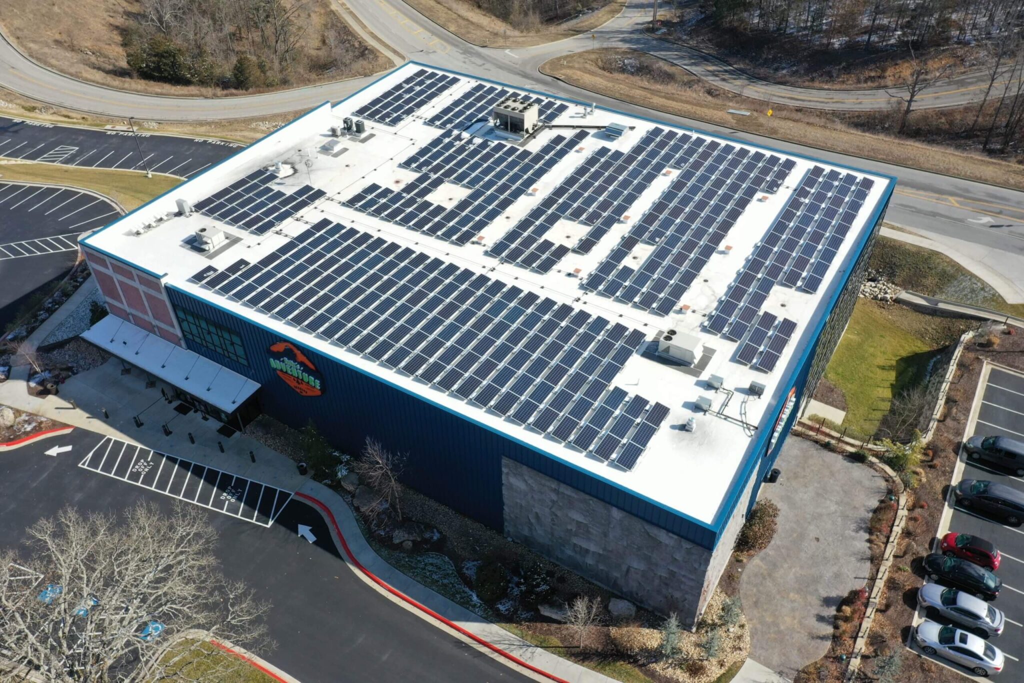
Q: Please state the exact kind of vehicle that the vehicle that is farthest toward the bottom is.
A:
car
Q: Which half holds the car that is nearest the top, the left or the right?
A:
right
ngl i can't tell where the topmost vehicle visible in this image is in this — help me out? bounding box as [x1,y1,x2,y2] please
[965,433,1024,476]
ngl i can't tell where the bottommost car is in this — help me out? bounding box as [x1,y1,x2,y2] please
[913,618,1008,681]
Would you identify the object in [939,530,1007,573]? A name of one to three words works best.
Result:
car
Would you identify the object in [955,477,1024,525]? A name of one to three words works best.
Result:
car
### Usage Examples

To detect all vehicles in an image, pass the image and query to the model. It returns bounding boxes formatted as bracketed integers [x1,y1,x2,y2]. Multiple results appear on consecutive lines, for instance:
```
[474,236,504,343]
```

[917,582,1009,641]
[913,618,1008,681]
[965,433,1024,476]
[939,530,1007,573]
[955,477,1024,525]
[921,551,1008,605]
